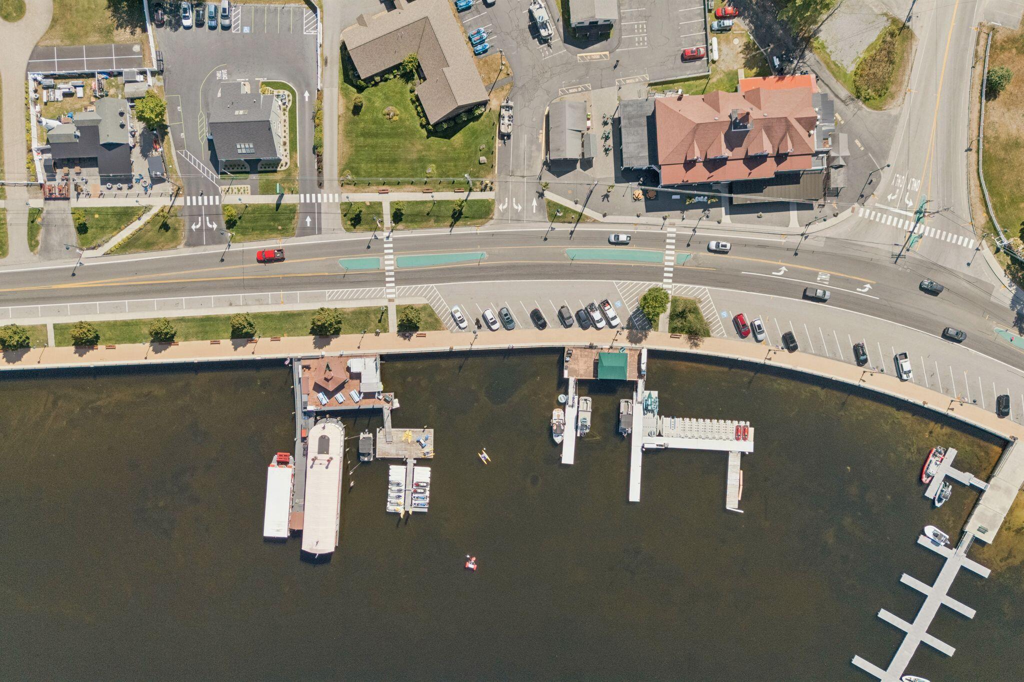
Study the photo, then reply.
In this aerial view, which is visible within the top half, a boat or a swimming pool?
boat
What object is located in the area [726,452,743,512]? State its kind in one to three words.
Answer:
pier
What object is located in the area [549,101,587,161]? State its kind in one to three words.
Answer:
shed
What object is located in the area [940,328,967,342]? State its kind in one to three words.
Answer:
car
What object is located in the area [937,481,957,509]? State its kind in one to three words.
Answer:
boat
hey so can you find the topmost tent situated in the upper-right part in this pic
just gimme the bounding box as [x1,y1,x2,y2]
[828,133,850,168]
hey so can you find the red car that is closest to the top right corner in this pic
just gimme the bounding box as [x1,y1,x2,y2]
[714,7,739,19]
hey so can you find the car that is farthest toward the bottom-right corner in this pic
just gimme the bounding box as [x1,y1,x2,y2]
[995,394,1011,418]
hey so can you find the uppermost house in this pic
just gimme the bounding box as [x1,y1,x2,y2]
[570,0,618,39]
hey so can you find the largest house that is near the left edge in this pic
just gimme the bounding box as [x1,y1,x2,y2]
[47,97,137,175]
